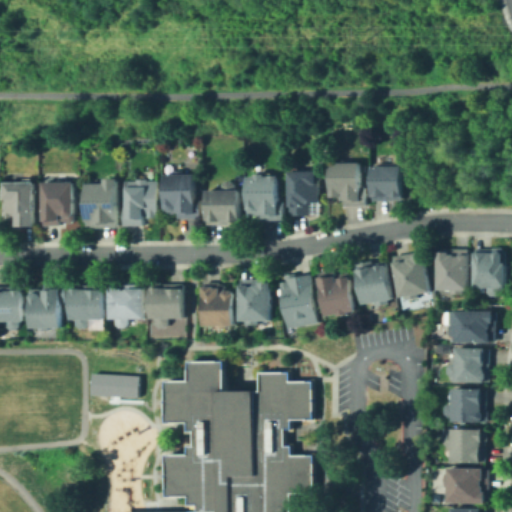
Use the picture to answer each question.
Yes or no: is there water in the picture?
No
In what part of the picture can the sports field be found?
bottom left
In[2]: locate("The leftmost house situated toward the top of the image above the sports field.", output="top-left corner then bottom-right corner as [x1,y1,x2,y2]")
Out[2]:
[1,182,36,226]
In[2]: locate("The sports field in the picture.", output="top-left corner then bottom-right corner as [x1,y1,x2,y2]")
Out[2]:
[0,354,84,444]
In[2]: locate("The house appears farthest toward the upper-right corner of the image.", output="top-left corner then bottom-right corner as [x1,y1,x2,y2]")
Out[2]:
[366,166,401,201]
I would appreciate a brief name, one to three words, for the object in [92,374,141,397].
shed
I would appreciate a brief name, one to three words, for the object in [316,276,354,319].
house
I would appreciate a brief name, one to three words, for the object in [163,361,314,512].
building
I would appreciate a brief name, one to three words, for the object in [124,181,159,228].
house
